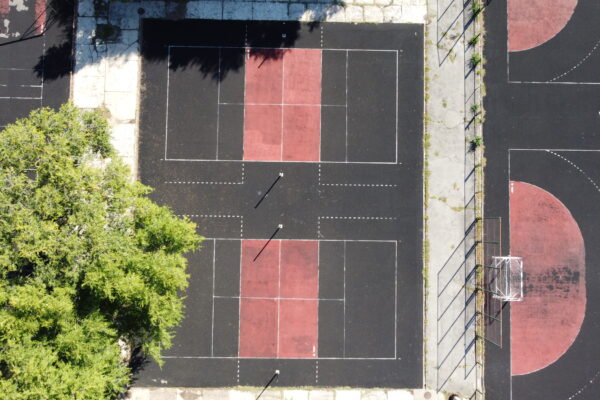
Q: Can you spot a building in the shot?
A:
No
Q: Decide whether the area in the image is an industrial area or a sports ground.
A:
sports ground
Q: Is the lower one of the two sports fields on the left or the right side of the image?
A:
right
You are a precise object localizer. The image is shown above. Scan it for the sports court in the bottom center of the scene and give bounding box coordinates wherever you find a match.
[155,215,401,381]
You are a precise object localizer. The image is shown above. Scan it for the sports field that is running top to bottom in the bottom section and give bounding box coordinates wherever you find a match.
[509,150,600,400]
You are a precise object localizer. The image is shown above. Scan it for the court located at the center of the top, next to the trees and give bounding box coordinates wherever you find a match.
[162,26,401,186]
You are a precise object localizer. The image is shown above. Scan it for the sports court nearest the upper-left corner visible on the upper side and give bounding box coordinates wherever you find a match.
[0,0,46,98]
